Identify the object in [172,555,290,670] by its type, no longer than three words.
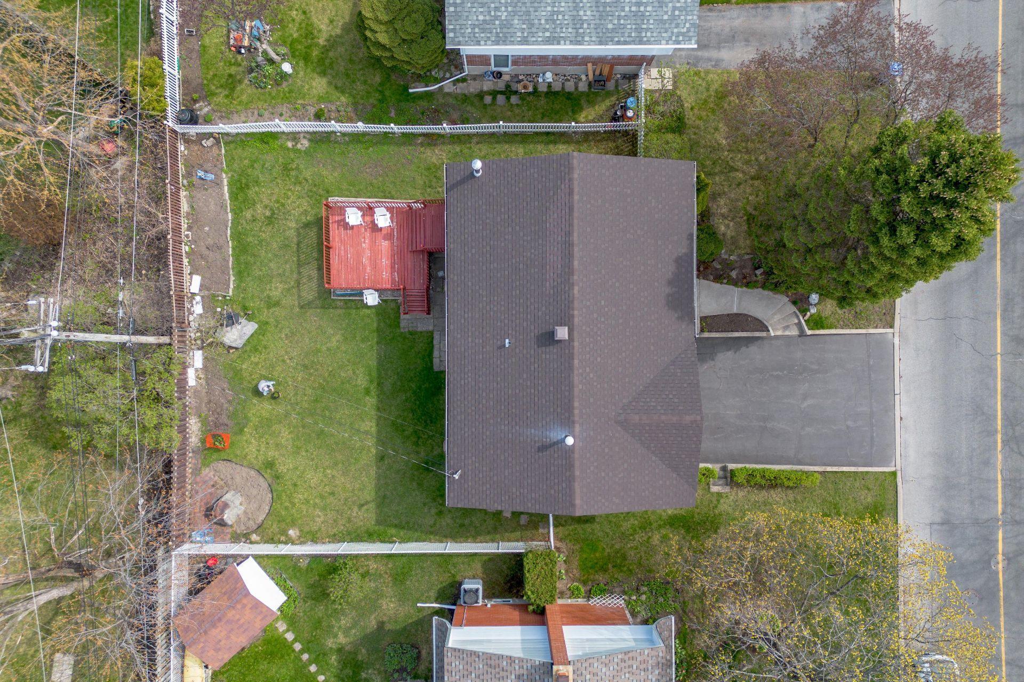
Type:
shed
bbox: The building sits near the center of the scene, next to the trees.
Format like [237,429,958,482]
[444,153,704,516]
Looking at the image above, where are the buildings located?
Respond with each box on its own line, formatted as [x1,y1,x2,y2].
[418,599,677,682]
[444,153,704,516]
[409,0,701,92]
[172,555,290,670]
